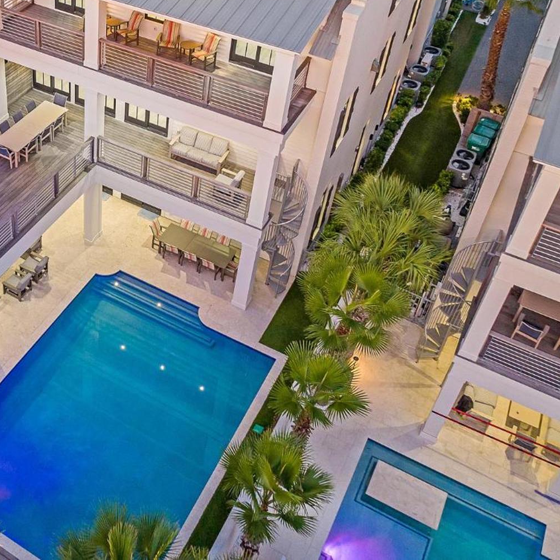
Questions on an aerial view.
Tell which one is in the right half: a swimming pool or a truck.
swimming pool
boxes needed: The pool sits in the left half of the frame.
[0,272,288,560]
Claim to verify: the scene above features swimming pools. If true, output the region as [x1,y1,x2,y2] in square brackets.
[0,272,288,560]
[317,436,557,560]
